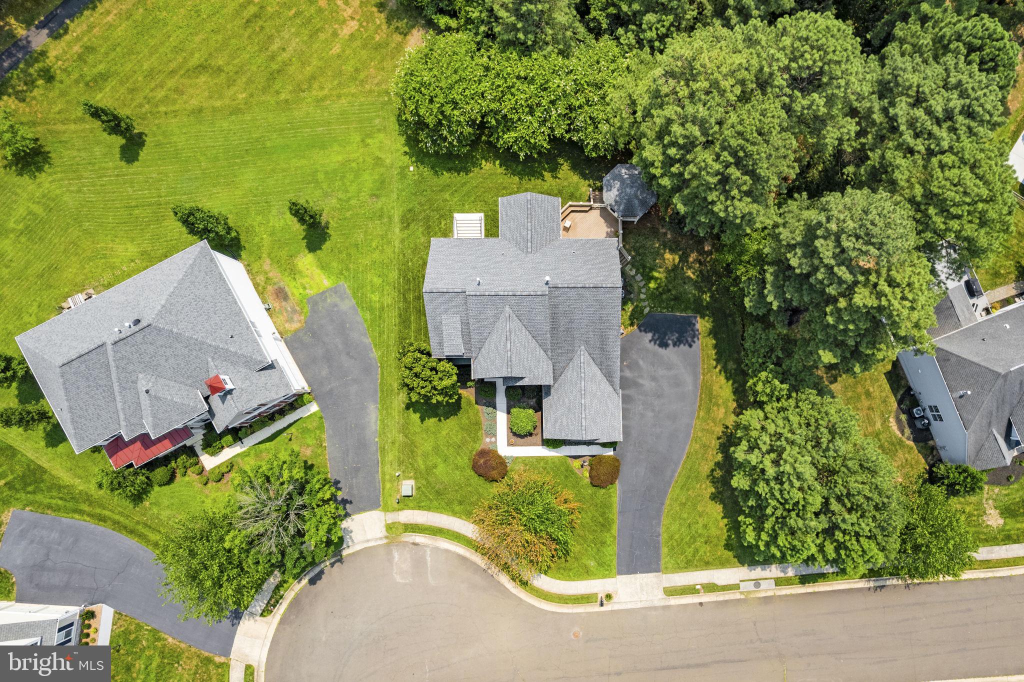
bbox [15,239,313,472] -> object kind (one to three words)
house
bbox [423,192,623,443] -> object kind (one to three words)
house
